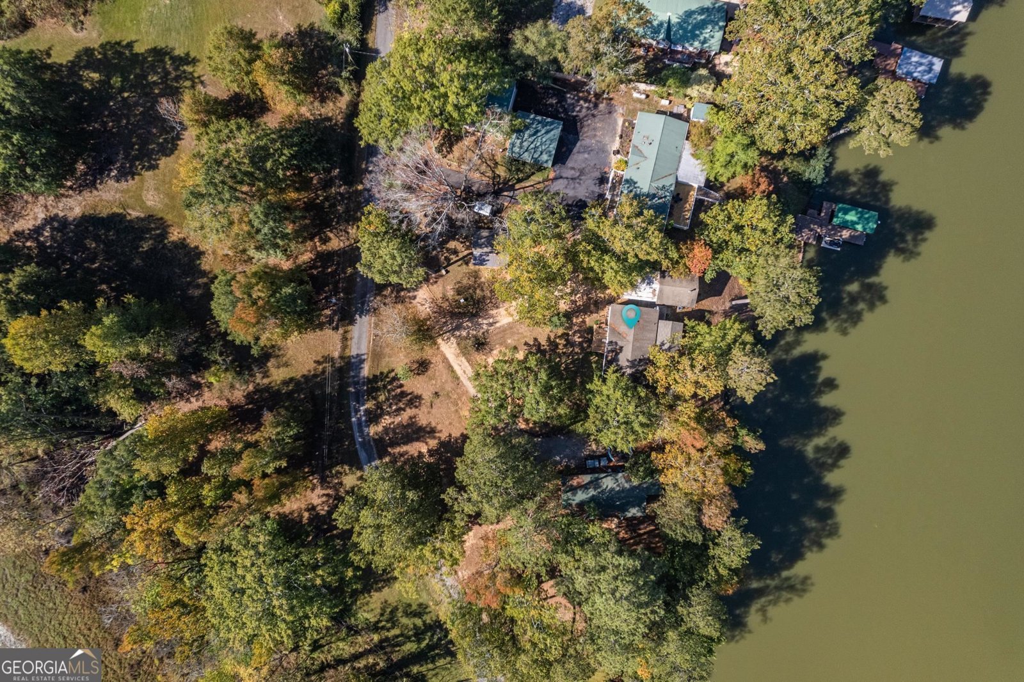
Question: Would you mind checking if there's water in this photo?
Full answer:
Yes, there's water in this view.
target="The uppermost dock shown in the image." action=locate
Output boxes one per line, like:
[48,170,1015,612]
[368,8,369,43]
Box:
[906,0,970,33]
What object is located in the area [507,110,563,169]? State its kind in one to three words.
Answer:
building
